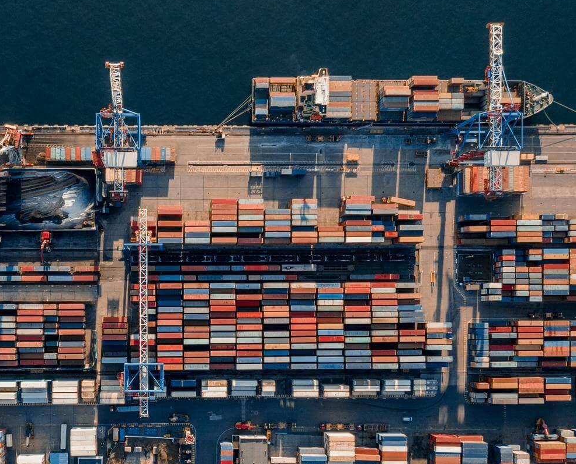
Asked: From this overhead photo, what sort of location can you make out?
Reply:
port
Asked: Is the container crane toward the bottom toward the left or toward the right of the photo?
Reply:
left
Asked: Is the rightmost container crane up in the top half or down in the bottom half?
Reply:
top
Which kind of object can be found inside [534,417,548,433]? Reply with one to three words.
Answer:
vehicle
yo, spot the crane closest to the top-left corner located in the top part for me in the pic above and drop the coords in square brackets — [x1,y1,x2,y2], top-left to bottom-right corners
[0,119,42,169]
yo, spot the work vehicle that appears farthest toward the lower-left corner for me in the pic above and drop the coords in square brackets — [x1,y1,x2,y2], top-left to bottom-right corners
[21,420,34,453]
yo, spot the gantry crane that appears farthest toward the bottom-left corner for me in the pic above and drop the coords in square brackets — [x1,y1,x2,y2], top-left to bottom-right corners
[119,209,171,417]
